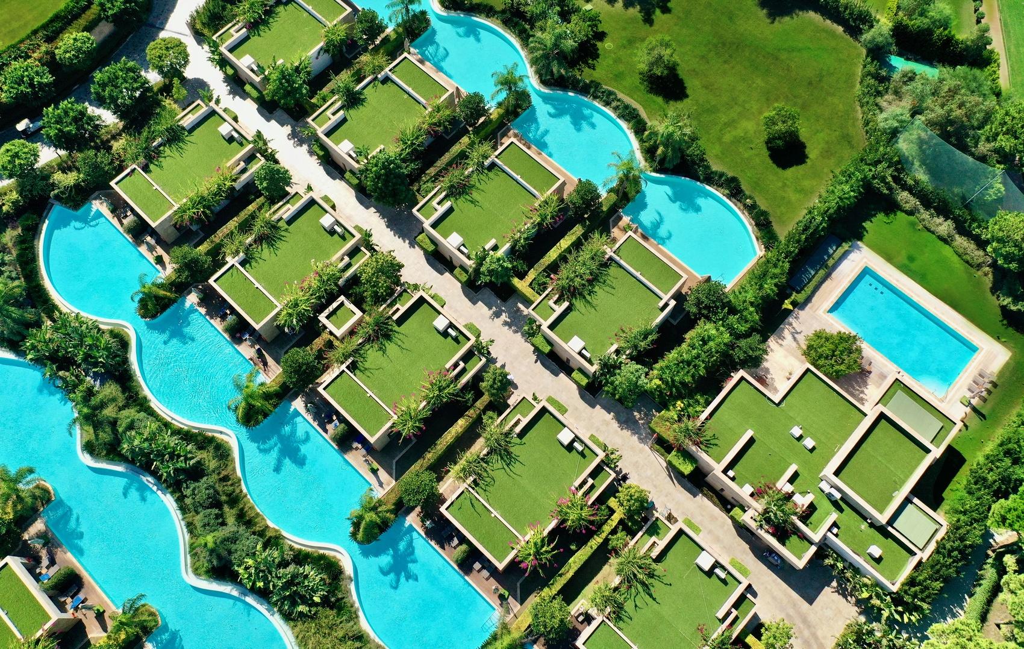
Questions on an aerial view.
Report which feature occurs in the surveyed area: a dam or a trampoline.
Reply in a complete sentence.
The one in the frame is a dam.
